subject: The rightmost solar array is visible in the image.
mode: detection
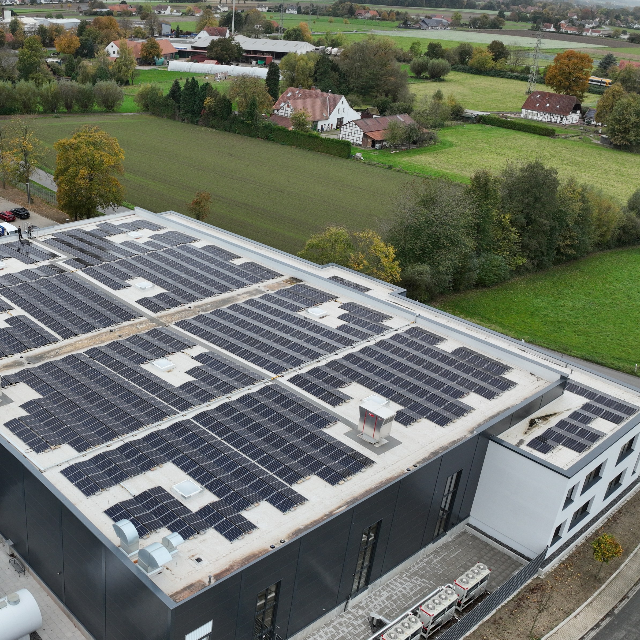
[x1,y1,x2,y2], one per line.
[525,378,640,457]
